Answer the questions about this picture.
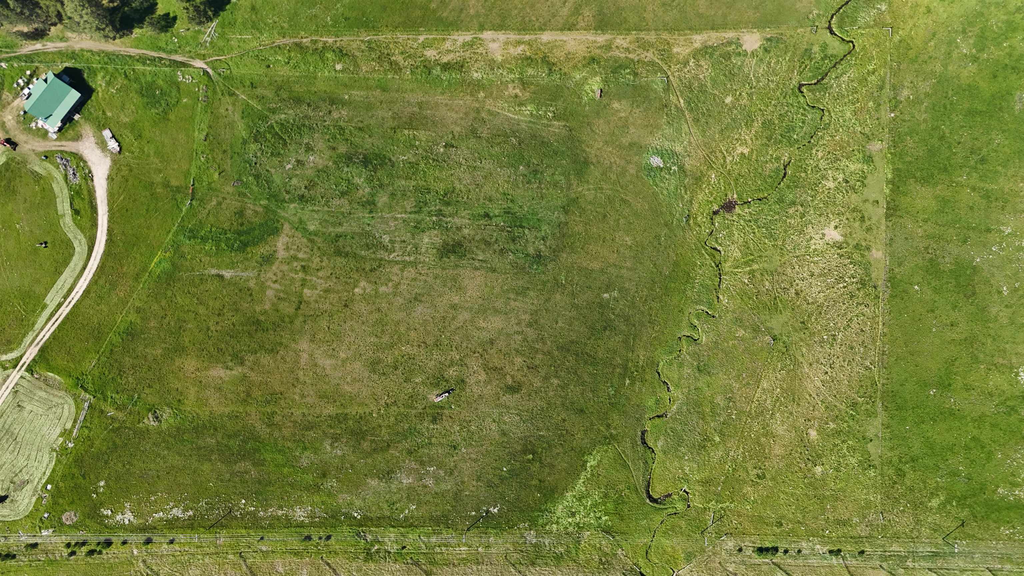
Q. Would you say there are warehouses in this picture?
No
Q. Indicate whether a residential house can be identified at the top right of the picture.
No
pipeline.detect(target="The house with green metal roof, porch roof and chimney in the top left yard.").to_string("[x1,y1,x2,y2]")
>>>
[24,71,83,131]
